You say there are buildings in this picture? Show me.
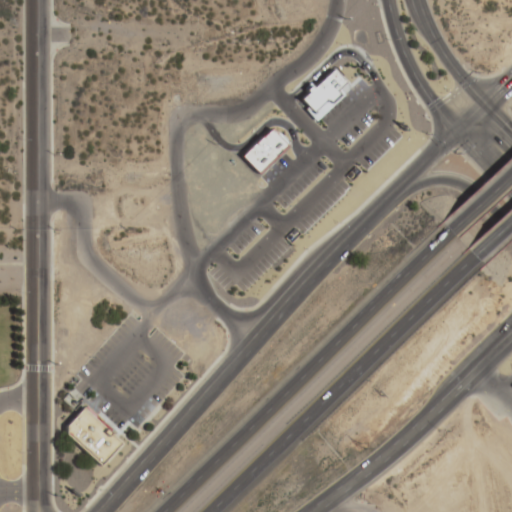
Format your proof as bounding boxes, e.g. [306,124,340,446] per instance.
[304,68,352,122]
[68,406,125,465]
[244,129,291,174]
